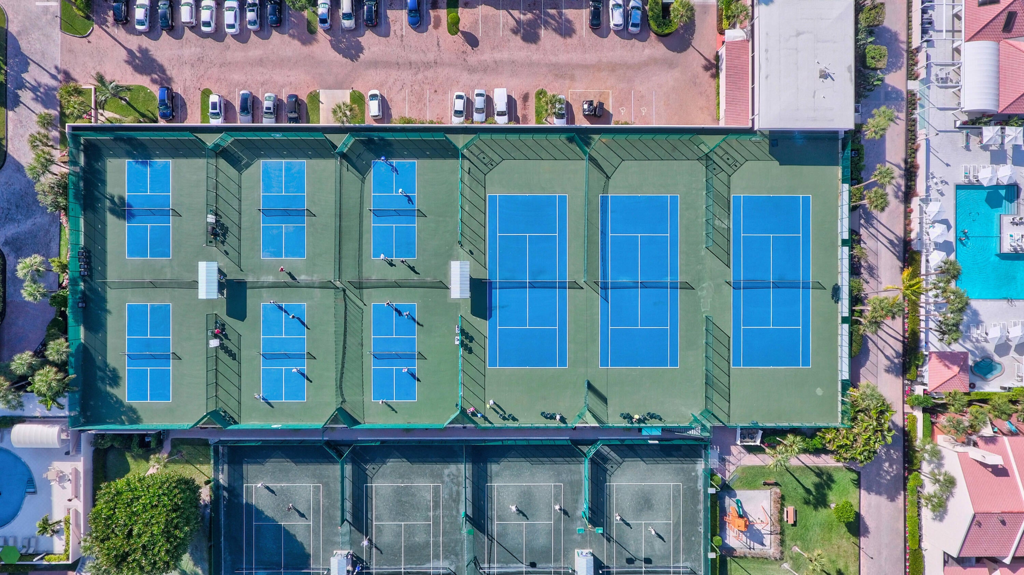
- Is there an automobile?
Yes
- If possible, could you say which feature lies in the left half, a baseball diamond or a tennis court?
tennis court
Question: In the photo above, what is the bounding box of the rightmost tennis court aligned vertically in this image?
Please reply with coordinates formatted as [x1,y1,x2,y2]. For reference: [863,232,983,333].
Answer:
[732,194,811,368]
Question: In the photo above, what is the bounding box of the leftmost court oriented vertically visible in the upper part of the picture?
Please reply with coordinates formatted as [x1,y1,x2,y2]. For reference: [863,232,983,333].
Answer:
[126,160,171,259]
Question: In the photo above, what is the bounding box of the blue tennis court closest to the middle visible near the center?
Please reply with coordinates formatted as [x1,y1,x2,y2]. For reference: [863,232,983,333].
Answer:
[488,194,568,368]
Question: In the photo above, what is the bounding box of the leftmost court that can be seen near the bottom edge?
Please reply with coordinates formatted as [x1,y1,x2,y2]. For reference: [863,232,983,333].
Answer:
[243,485,322,575]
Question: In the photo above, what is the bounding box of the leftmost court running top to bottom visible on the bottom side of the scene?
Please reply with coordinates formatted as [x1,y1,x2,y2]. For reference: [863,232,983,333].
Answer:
[126,303,171,402]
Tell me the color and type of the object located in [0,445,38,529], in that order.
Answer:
blue swimming pool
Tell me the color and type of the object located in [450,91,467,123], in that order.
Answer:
white car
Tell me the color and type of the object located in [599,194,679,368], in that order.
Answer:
blue tennis court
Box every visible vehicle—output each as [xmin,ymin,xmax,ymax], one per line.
[471,89,488,123]
[111,0,131,24]
[178,0,198,27]
[156,0,175,31]
[627,0,644,34]
[362,0,379,26]
[406,0,422,28]
[223,0,241,35]
[237,90,255,123]
[317,0,333,30]
[339,0,356,30]
[587,0,604,29]
[366,89,383,122]
[268,0,283,27]
[492,86,509,123]
[208,93,226,123]
[609,0,626,31]
[245,0,262,31]
[553,94,569,123]
[260,92,278,123]
[450,91,467,123]
[156,85,176,121]
[199,0,217,33]
[285,93,302,123]
[133,0,152,32]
